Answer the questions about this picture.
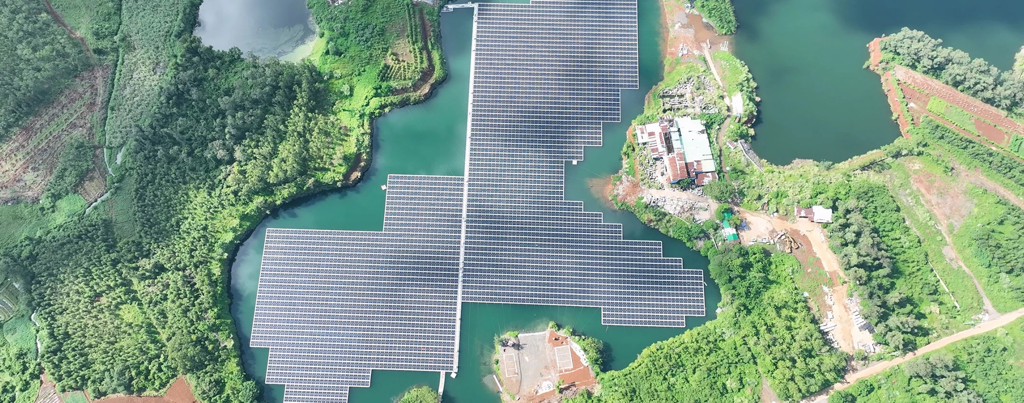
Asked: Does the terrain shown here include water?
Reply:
Yes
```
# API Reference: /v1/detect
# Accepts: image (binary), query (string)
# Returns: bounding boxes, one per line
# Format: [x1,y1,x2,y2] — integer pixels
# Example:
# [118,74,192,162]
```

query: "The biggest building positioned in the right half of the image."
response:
[635,115,717,188]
